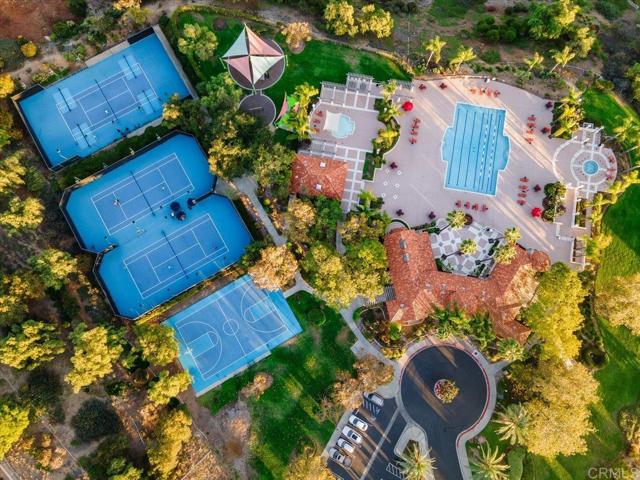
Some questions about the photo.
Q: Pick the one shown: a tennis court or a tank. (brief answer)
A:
tennis court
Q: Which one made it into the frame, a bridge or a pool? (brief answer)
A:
pool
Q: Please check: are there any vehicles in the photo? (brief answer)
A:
Yes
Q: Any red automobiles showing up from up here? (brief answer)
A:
No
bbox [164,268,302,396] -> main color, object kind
blue basketball court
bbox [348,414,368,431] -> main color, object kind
white car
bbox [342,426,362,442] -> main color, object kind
white car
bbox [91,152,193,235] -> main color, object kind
blue tennis court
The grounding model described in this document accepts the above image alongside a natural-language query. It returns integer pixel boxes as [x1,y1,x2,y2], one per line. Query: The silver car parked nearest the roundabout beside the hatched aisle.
[363,391,384,408]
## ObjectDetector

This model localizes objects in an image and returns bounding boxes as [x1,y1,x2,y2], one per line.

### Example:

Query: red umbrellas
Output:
[402,102,412,112]
[529,207,541,218]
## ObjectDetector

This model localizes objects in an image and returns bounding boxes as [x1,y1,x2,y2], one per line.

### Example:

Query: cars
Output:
[342,426,362,442]
[348,414,368,431]
[363,391,384,408]
[336,437,355,452]
[328,448,349,465]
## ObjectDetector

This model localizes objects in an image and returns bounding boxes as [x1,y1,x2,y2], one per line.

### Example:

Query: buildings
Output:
[291,155,347,199]
[382,216,551,344]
